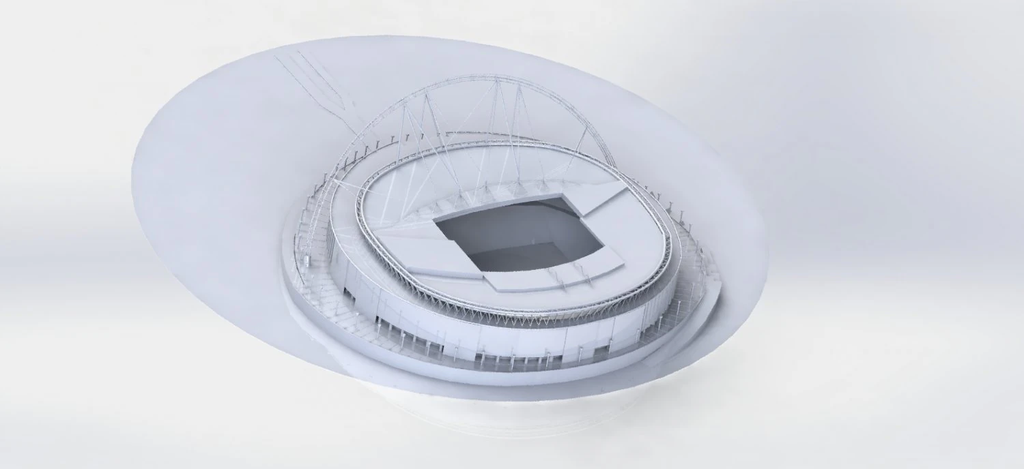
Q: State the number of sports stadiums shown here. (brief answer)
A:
1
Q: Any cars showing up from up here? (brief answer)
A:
No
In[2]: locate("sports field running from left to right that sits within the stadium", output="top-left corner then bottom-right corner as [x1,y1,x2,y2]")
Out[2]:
[468,243,569,272]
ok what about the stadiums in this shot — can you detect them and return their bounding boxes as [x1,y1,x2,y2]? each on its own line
[323,131,683,364]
